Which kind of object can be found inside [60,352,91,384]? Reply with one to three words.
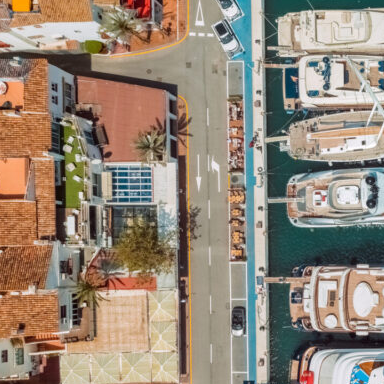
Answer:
tent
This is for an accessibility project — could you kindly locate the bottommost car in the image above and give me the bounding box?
[230,306,248,336]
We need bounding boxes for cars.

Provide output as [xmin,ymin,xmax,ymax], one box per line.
[230,306,248,336]
[218,0,243,23]
[214,21,243,59]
